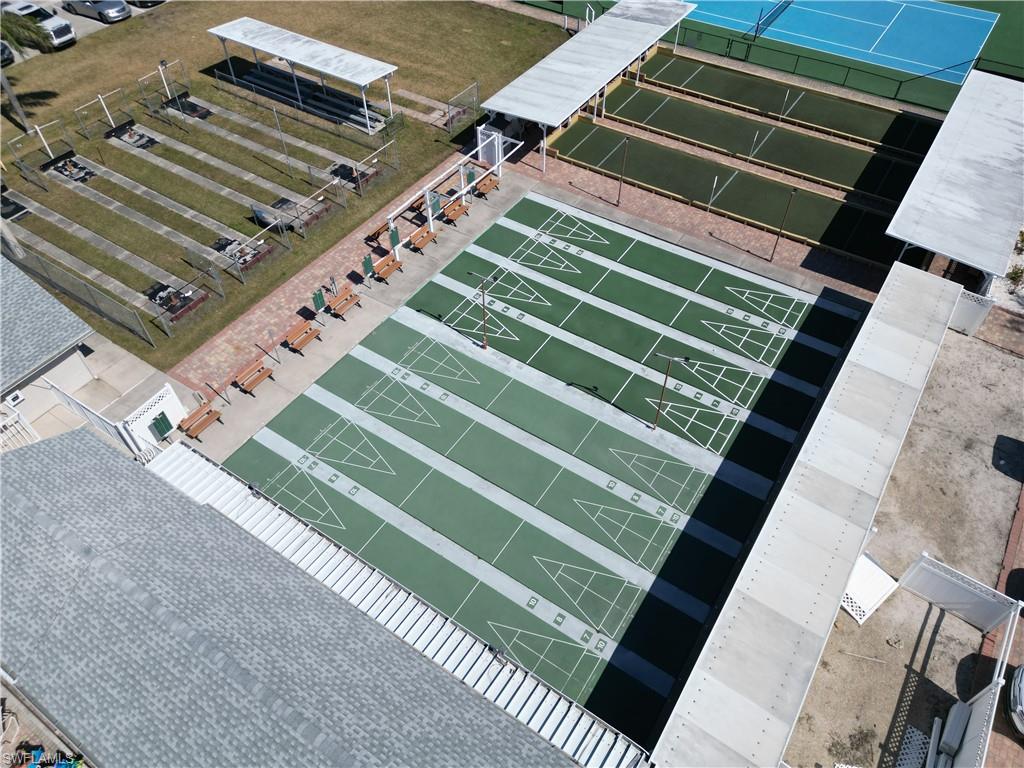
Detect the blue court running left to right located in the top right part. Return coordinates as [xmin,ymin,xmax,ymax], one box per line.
[501,0,1024,113]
